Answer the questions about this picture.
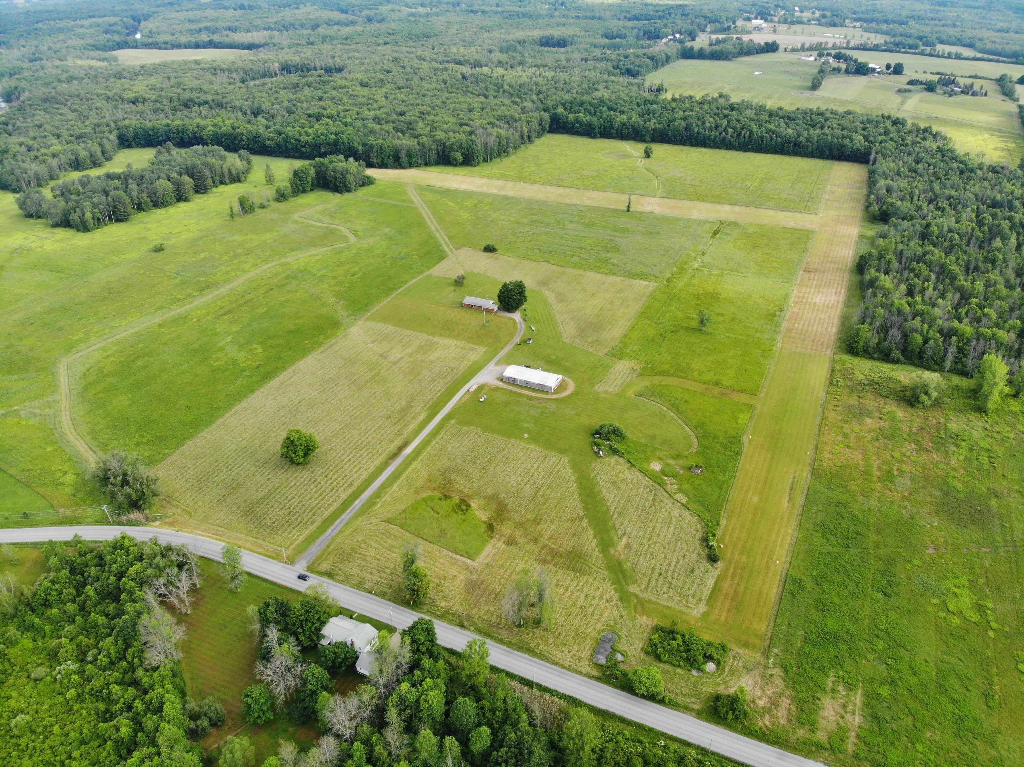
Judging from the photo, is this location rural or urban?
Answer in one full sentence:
From above, the setting appears rural.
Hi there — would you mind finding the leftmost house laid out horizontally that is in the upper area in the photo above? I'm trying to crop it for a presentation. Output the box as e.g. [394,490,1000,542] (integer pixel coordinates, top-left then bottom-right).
[462,295,499,312]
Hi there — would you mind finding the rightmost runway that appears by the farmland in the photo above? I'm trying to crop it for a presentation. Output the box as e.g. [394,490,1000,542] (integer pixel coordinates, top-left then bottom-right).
[782,162,867,353]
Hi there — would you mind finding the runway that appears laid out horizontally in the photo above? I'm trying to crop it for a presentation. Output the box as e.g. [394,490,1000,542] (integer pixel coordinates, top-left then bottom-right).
[367,168,819,230]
